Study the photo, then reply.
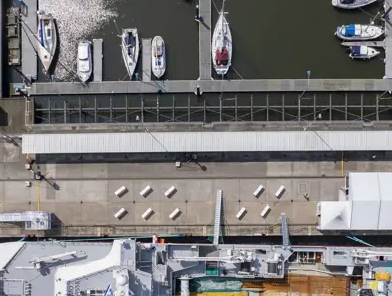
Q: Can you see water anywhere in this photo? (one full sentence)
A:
Yes, the picture does contain water.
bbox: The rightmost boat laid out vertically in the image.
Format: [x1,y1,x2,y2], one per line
[210,0,232,82]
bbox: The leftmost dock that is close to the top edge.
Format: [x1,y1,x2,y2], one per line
[20,0,36,78]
